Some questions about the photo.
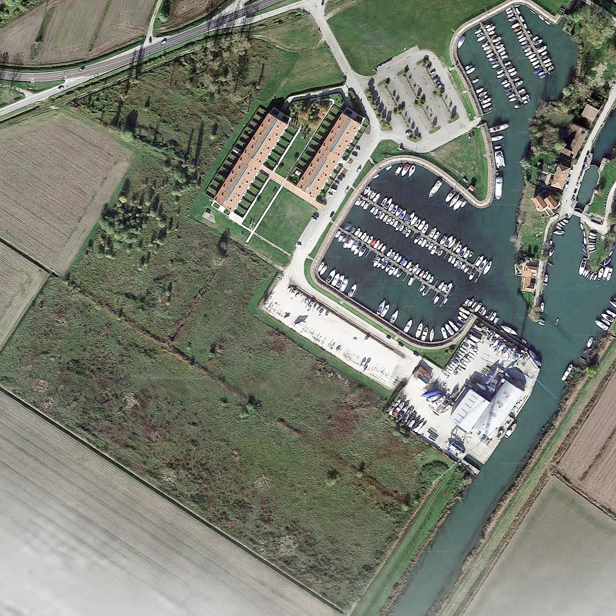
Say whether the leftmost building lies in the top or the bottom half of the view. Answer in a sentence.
You can find the leftmost building in the top half.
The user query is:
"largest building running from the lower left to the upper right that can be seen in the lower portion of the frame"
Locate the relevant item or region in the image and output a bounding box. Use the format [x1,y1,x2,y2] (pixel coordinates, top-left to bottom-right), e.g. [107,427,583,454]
[477,379,527,441]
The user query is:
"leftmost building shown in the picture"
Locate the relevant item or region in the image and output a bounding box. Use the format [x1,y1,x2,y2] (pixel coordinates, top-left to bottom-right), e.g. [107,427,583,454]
[214,104,293,212]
